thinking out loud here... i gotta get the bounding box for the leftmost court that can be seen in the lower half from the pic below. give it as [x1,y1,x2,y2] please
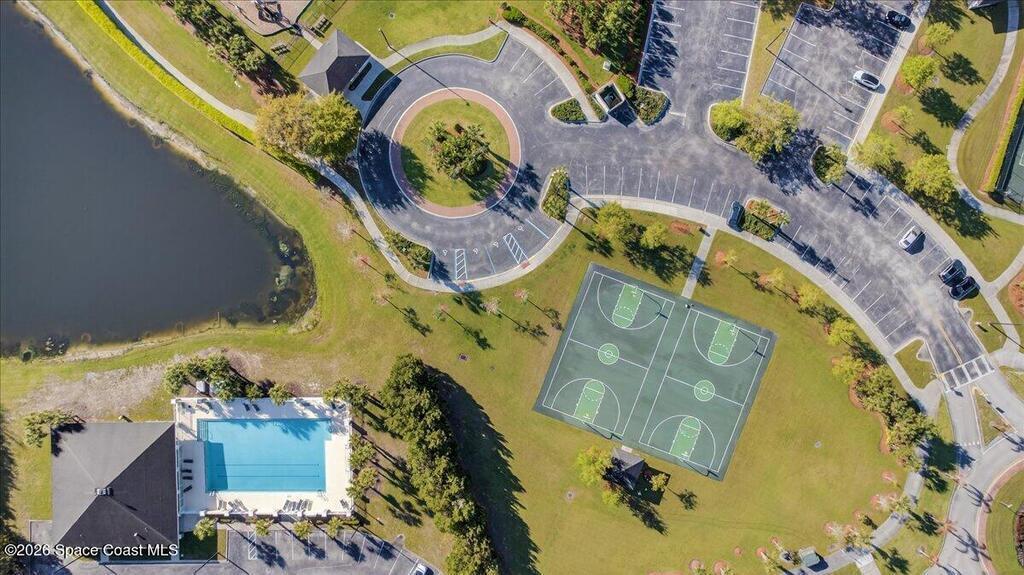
[535,263,684,445]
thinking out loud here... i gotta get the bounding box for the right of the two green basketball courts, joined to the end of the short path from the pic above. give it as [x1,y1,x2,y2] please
[629,299,777,481]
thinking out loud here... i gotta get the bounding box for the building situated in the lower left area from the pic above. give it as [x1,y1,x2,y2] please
[51,421,185,548]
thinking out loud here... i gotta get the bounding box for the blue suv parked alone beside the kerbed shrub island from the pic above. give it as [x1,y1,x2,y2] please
[728,201,745,229]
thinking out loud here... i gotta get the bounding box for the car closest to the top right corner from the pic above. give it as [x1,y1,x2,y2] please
[884,10,912,30]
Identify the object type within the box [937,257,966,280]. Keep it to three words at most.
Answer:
car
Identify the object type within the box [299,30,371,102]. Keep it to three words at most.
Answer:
building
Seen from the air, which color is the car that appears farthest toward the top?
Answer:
black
